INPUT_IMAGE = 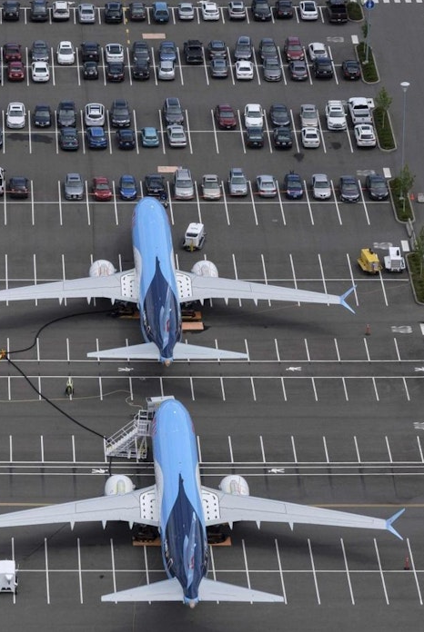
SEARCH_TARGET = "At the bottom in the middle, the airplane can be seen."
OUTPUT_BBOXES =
[0,399,406,613]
